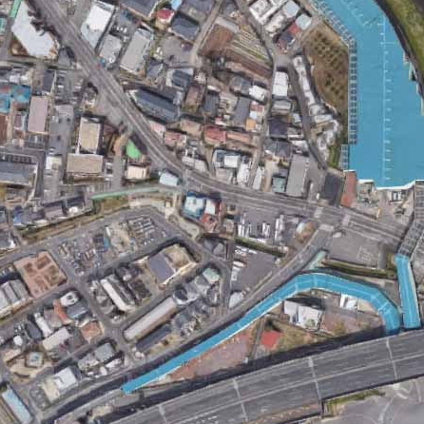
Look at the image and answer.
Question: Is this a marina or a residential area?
residential area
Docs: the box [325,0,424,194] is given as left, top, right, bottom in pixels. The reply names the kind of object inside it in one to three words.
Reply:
shed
